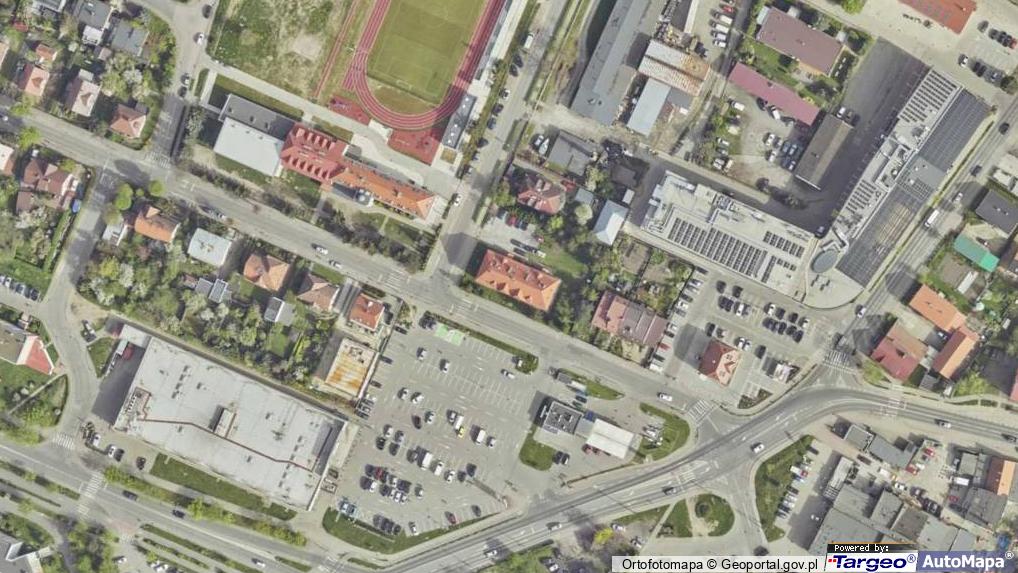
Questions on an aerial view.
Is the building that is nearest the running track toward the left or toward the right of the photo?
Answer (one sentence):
You can find the building that is nearest the running track on the left side of the picture.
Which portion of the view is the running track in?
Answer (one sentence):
Look in the top portion of the view to spot the running track.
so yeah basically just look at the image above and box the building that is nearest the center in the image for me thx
[475,250,562,311]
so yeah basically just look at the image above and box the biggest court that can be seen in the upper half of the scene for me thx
[390,113,450,165]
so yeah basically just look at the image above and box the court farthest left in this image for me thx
[327,95,371,124]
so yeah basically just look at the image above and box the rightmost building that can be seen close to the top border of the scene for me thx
[901,0,976,34]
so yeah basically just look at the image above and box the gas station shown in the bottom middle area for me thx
[541,402,635,459]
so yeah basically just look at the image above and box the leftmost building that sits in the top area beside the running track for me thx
[214,97,439,220]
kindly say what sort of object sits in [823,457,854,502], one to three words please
shed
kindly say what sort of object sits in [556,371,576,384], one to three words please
vehicle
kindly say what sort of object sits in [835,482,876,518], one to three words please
building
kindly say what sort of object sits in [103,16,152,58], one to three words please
house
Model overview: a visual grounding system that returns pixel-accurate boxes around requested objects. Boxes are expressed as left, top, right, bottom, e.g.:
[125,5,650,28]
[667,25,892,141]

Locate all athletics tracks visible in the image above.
[338,0,503,130]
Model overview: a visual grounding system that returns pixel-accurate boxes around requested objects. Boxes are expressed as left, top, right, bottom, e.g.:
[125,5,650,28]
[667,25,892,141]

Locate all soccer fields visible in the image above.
[363,0,484,101]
